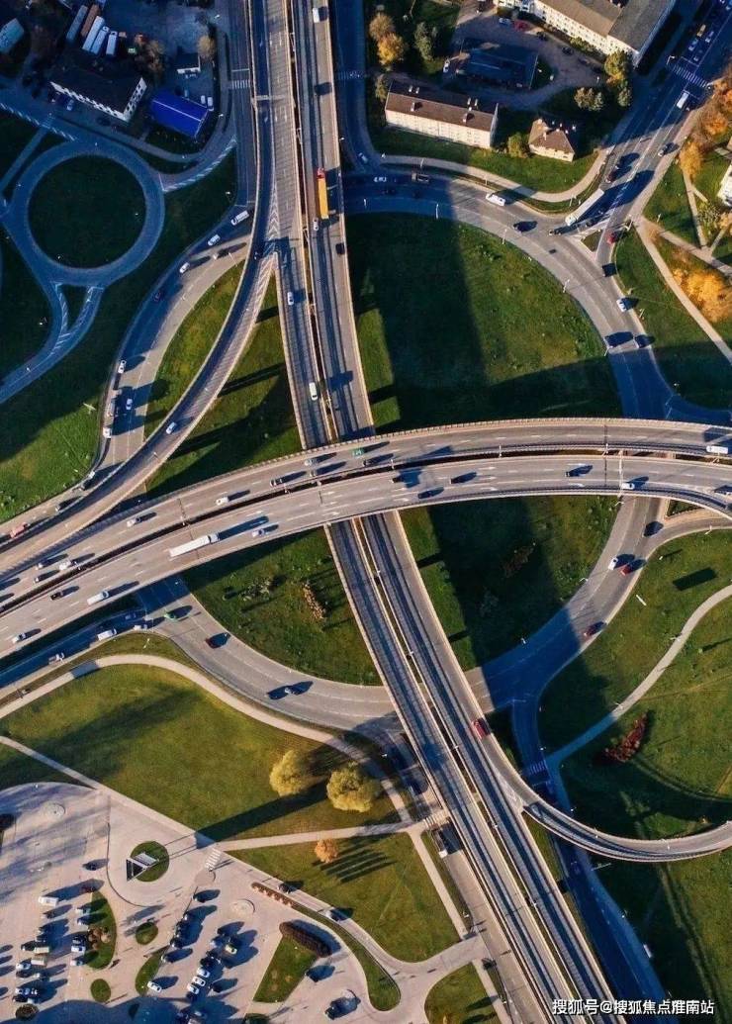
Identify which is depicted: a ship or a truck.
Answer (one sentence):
I can see a truck in this picture.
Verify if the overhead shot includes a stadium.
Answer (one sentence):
No, there's no stadium here.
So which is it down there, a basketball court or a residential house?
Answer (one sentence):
The image shows a residential house.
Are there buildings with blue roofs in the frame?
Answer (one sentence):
Yes, there's a building with a blue roof down there.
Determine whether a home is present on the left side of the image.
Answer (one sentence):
Yes, a home shows up on the left side of the image.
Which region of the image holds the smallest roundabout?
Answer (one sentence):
You can find the smallest roundabout in the top left area of the picture.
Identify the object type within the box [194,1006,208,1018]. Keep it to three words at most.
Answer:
vehicle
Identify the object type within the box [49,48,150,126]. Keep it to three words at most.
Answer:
house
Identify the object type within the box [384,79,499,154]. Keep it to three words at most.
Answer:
building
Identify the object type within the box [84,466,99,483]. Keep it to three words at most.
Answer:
vehicle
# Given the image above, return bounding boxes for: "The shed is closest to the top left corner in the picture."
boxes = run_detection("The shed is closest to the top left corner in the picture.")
[0,15,31,62]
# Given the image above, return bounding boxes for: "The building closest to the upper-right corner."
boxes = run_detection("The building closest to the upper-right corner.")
[601,0,677,74]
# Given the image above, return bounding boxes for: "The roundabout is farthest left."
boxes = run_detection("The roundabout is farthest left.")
[12,140,162,332]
